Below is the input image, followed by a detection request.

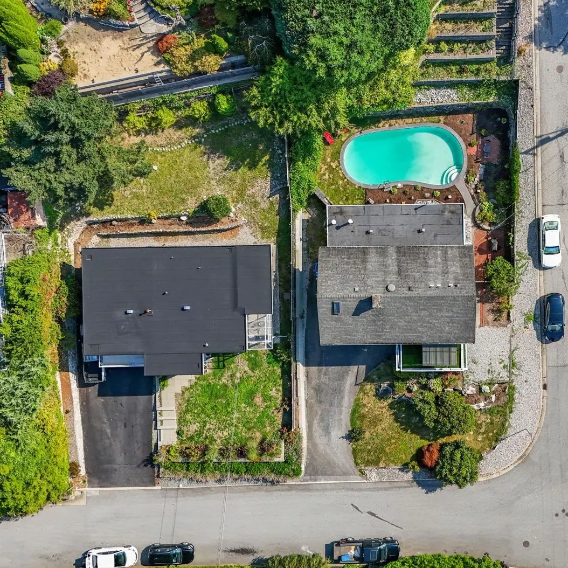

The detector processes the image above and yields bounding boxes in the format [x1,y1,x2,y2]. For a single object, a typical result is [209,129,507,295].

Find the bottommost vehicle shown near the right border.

[541,293,566,343]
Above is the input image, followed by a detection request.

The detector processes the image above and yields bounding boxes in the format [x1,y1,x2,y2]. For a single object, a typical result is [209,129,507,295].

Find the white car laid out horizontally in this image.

[87,543,139,568]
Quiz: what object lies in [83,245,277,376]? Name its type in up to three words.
house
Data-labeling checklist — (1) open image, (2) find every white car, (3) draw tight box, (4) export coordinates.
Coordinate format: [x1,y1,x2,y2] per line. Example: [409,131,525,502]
[539,213,564,269]
[87,543,139,568]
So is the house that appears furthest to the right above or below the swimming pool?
below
